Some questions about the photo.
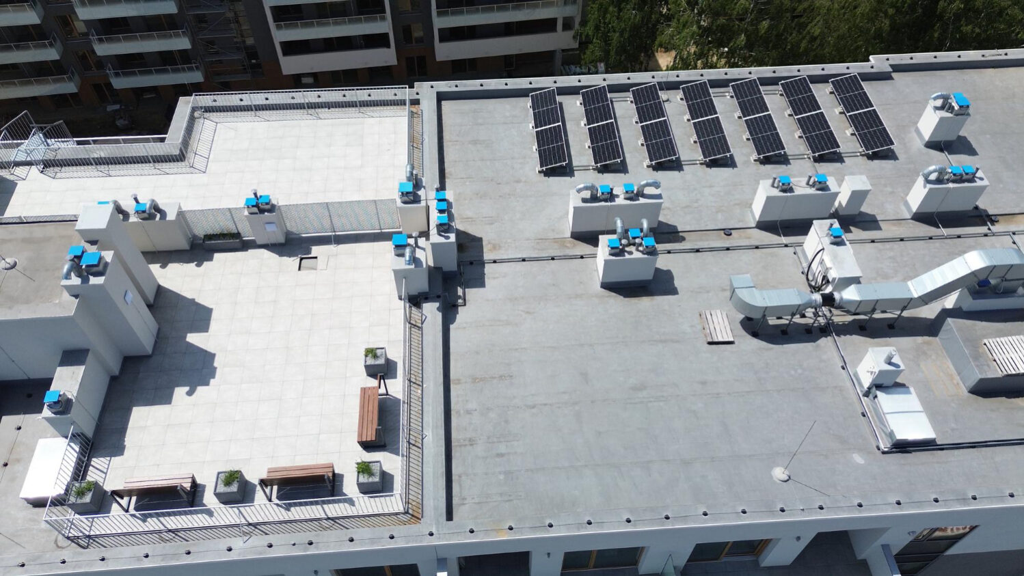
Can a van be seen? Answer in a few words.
No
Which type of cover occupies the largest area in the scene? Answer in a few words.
buildings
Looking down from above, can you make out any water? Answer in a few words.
No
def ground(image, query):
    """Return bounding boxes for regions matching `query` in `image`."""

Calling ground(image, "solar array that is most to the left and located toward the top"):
[526,85,569,173]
